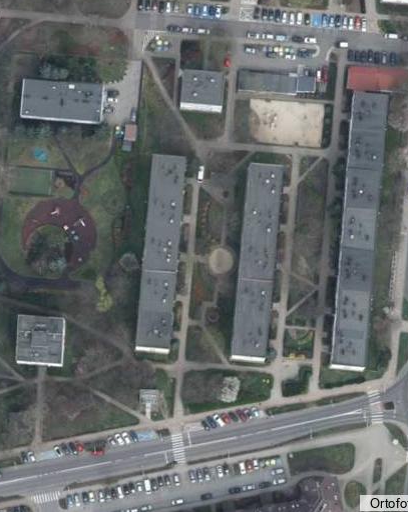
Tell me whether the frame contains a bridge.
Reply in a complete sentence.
No, the scene contains no bridge.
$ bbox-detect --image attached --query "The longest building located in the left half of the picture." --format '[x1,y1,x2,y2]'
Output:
[135,155,187,355]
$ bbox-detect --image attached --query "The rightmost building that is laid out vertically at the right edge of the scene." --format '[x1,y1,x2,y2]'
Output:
[331,91,389,371]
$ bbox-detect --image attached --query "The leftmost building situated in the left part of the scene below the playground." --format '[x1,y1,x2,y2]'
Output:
[17,315,66,369]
